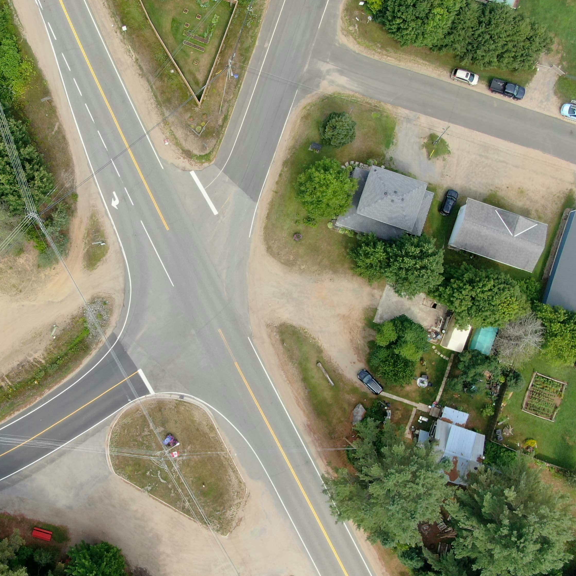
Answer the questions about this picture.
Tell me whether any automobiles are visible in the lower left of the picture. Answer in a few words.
No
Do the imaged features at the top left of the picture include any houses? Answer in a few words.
No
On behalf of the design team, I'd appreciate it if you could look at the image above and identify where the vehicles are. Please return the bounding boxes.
[357,366,386,398]
[450,65,481,85]
[489,77,529,99]
[560,101,576,119]
[438,187,459,218]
